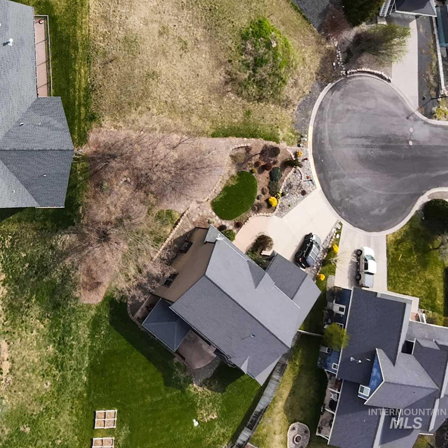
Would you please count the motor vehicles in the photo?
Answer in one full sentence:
Looking from above, you can make out 2 motor vehicles.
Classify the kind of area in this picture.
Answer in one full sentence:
It's a residential area.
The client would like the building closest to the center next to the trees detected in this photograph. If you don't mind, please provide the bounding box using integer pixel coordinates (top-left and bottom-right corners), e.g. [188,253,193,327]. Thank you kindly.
[136,236,325,387]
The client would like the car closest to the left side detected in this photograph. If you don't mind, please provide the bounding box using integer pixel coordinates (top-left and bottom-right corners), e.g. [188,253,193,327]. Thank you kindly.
[296,231,322,270]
